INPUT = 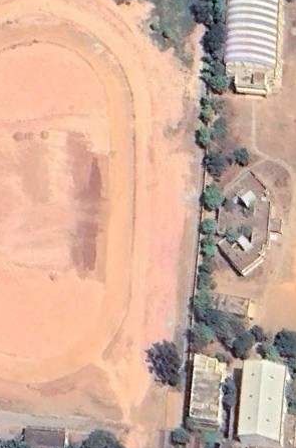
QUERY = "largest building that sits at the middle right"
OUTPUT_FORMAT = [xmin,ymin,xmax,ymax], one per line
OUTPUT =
[218,171,270,277]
